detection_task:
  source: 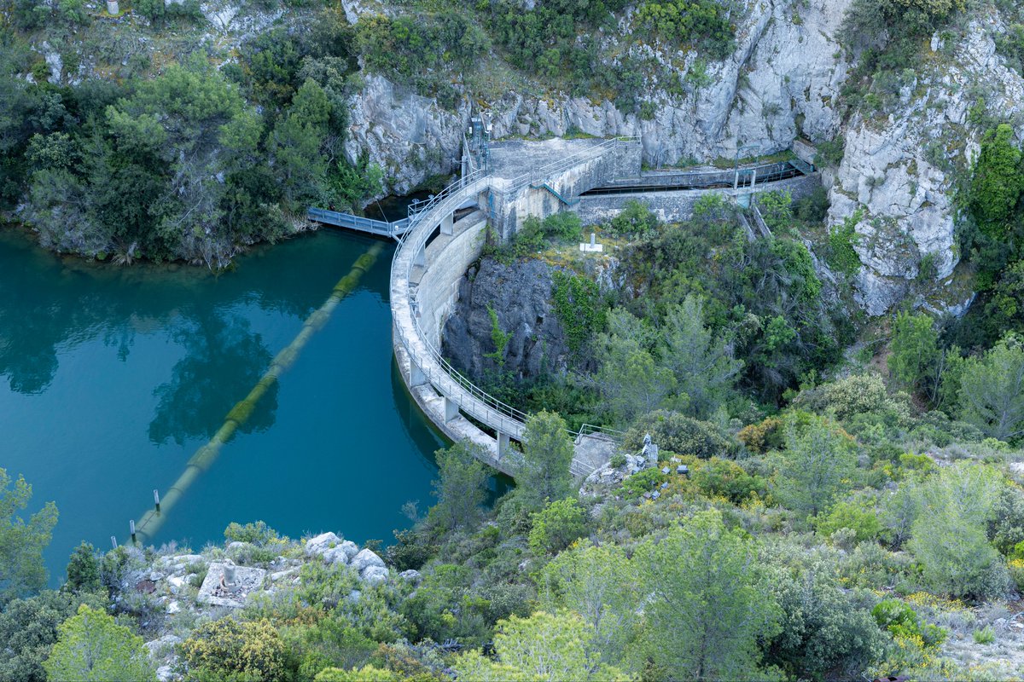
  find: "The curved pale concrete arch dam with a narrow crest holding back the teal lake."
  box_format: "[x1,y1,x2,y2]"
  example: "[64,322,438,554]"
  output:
[390,207,533,534]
